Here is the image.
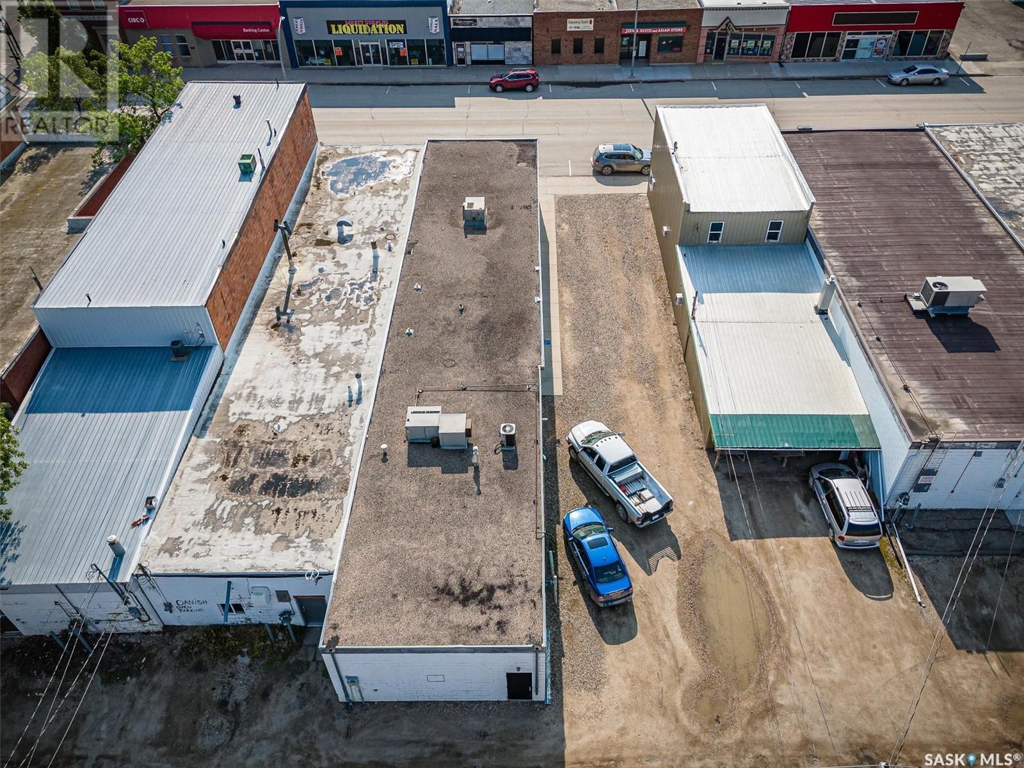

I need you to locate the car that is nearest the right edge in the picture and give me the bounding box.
[886,61,951,85]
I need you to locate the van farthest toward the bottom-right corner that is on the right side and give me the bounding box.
[810,462,890,557]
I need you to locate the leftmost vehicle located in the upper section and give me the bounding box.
[487,63,539,90]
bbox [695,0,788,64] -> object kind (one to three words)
building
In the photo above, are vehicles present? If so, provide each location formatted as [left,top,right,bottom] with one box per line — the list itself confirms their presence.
[886,61,951,85]
[560,420,675,534]
[564,508,639,607]
[487,63,539,90]
[810,462,890,557]
[593,139,652,173]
